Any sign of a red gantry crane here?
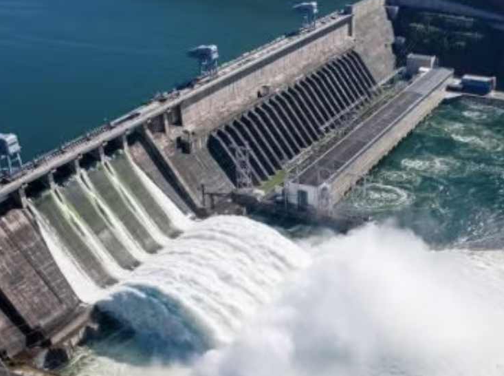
No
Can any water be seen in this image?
Yes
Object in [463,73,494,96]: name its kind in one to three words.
building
